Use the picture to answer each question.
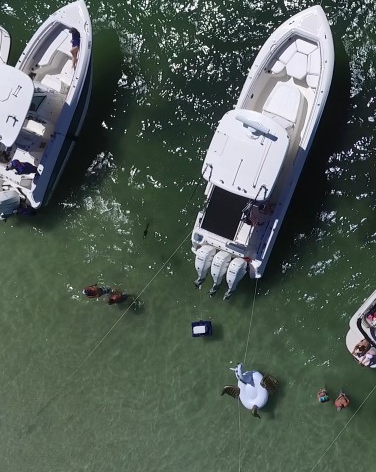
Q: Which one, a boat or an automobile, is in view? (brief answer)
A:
boat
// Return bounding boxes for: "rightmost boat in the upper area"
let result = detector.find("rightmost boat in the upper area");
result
[184,5,335,301]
